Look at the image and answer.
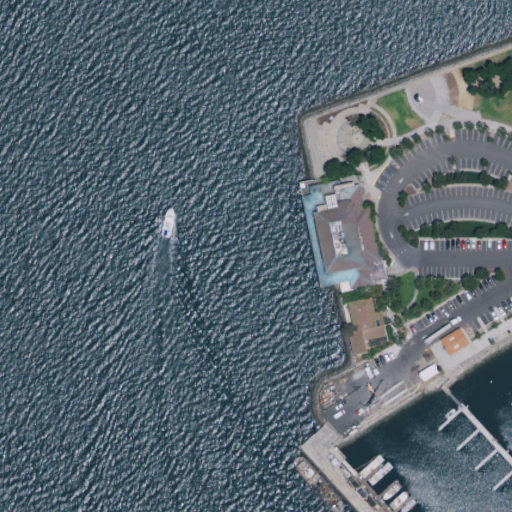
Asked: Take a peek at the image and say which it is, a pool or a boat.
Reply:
boat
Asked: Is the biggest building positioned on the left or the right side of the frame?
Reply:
right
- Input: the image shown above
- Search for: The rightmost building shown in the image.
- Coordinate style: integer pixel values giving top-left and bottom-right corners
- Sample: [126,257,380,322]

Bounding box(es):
[442,328,470,355]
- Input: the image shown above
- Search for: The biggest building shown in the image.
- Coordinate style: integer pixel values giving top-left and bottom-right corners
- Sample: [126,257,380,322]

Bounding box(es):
[300,179,390,292]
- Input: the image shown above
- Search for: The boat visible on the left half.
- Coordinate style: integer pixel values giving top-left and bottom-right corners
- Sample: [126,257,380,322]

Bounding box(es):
[160,208,174,239]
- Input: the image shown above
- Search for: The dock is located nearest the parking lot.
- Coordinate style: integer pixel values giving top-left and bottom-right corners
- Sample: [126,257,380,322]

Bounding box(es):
[301,421,392,512]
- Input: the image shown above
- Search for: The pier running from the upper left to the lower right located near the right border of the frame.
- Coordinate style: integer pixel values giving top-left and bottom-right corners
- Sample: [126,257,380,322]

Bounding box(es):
[438,384,512,507]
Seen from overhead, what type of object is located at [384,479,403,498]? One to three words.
boat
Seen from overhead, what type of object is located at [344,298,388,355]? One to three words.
building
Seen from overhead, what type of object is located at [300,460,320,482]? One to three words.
boat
